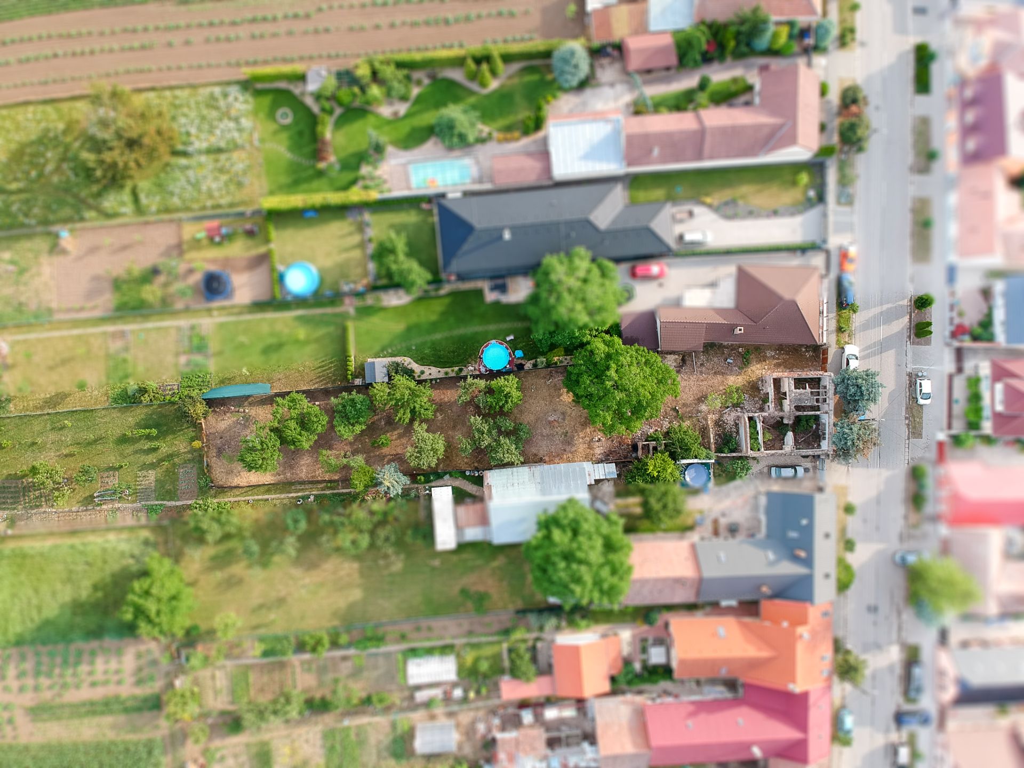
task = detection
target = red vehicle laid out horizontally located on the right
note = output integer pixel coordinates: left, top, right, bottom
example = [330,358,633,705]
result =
[632,263,666,279]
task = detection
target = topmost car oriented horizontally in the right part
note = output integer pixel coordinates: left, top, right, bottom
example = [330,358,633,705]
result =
[677,229,711,245]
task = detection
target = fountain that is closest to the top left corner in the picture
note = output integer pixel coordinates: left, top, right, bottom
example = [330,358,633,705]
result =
[274,106,293,125]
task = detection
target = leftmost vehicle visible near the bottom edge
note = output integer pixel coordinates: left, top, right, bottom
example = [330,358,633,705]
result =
[836,707,853,738]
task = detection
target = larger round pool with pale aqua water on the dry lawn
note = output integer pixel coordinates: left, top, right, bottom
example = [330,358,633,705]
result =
[283,260,321,298]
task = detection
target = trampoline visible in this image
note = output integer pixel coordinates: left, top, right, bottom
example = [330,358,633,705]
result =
[203,271,232,299]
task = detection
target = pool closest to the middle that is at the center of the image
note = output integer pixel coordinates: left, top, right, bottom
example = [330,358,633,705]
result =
[482,342,510,370]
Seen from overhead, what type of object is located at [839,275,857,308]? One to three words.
vehicle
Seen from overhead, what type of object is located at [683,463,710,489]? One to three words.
swimming pool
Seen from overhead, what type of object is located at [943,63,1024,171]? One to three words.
house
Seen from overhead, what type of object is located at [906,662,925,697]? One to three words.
car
